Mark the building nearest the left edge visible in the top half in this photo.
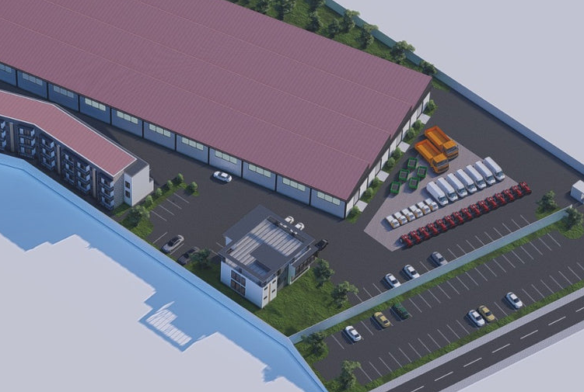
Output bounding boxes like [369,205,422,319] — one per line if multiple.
[0,88,153,211]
